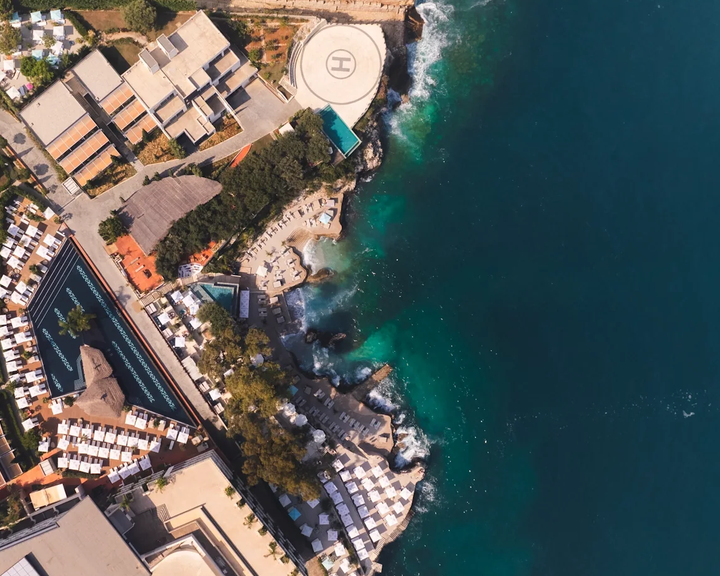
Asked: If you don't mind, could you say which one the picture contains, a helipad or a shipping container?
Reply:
helipad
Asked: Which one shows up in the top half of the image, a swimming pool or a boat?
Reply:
swimming pool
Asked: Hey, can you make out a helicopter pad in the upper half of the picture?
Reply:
Yes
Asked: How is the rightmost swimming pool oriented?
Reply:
diagonally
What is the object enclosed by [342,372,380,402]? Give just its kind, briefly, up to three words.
pier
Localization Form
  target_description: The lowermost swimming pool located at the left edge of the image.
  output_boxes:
[28,236,198,427]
